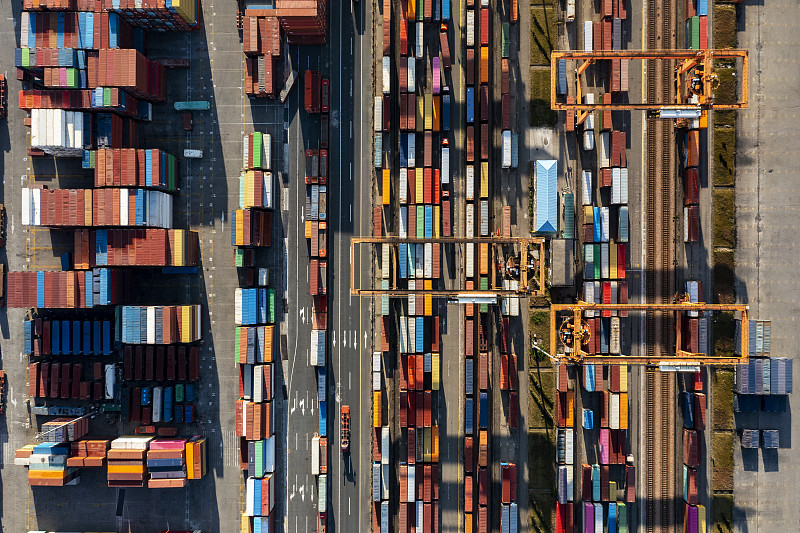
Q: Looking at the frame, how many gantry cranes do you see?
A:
3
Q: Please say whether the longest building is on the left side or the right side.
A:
right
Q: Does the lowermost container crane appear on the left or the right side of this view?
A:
right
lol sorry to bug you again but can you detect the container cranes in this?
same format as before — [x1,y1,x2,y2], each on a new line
[549,48,752,132]
[349,234,547,309]
[548,295,751,375]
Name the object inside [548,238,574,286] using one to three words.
building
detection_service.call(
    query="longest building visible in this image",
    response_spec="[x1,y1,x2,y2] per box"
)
[534,159,558,232]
